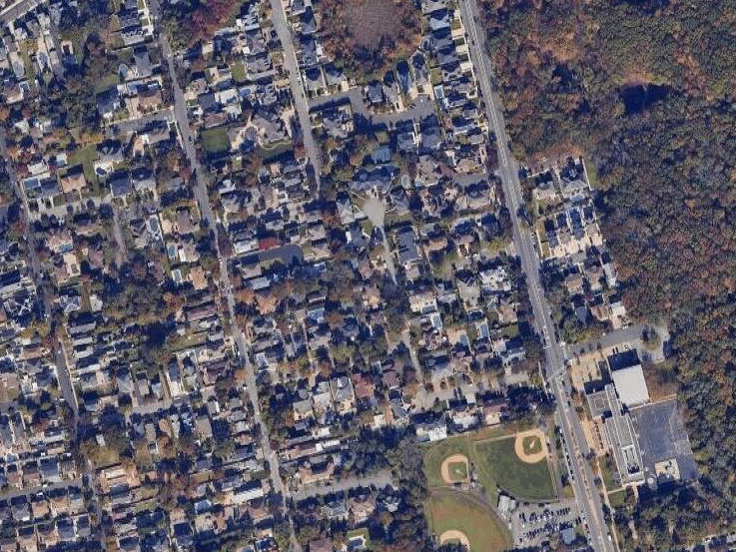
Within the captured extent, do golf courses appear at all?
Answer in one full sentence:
No, the picture doesn't show any golf course.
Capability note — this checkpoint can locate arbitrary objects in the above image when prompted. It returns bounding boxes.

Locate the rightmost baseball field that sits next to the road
[471,429,563,501]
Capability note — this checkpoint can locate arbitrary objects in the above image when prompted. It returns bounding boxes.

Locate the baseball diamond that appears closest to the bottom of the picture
[425,491,513,552]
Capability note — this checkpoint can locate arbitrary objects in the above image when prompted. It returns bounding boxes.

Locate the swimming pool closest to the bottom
[347,534,365,550]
